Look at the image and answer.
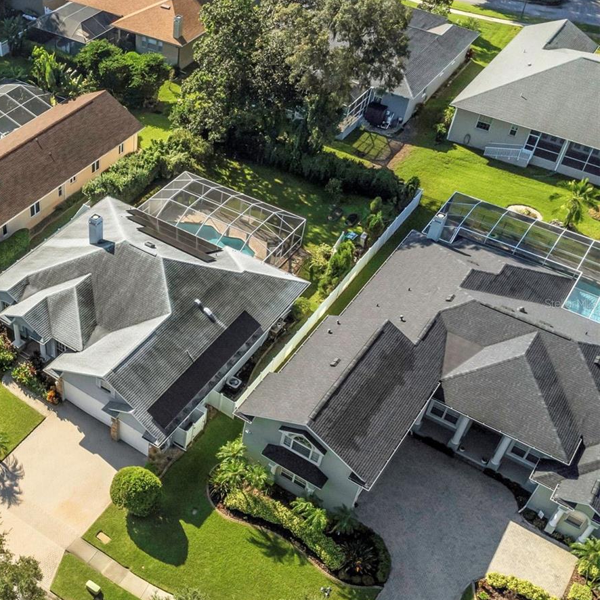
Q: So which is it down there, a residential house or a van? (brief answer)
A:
residential house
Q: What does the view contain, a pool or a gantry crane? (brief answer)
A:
pool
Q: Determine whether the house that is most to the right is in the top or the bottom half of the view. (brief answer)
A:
top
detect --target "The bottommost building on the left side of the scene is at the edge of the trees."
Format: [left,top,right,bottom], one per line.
[0,193,309,458]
